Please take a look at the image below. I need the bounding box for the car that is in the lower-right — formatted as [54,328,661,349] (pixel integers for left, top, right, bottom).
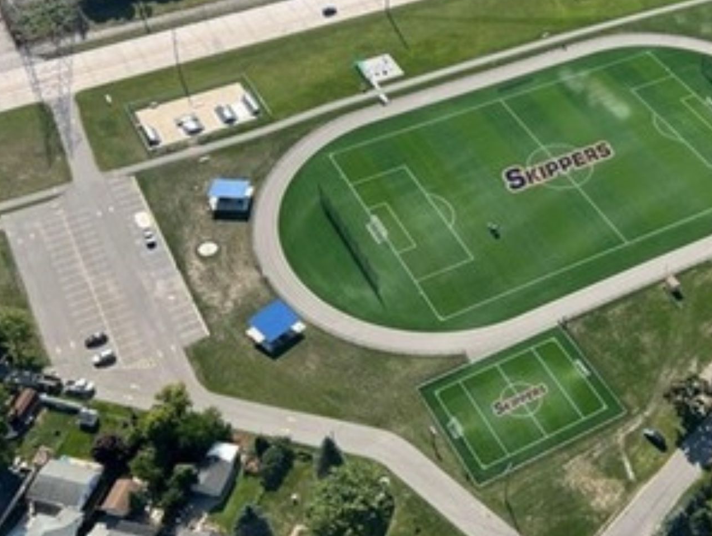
[644,431,665,450]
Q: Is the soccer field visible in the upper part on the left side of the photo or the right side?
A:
right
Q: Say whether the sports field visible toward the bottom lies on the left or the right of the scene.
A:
right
